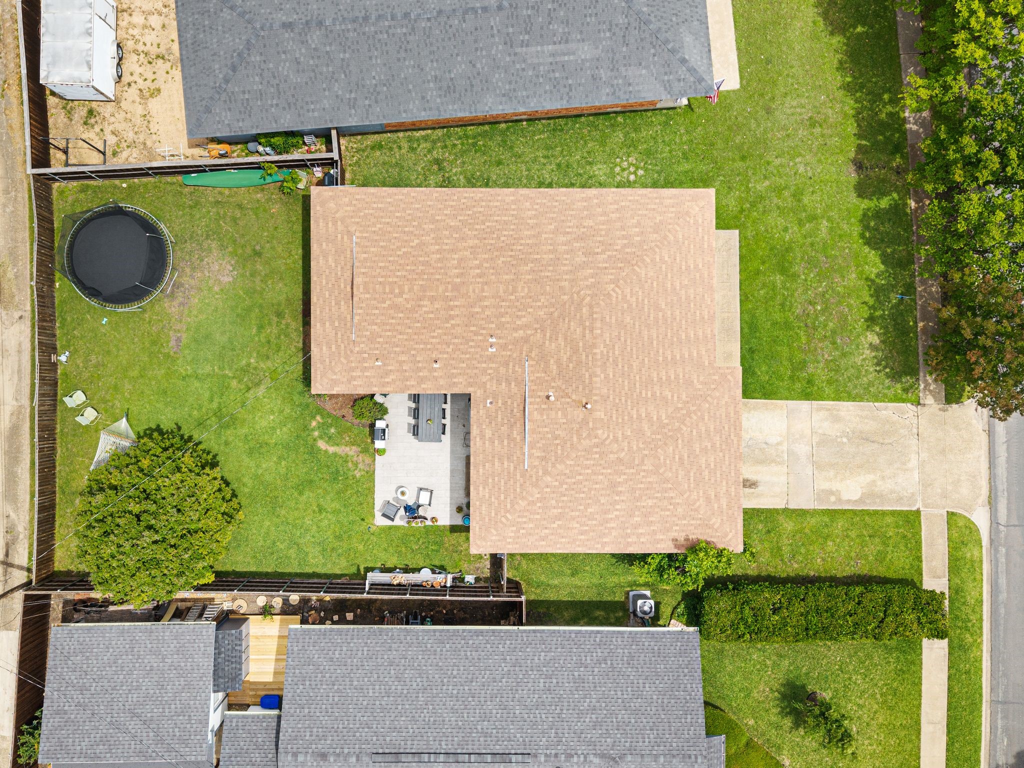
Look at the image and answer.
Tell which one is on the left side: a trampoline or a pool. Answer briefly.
trampoline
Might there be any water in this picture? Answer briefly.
No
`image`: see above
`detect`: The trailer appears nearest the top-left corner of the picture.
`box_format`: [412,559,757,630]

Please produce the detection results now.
[40,0,128,101]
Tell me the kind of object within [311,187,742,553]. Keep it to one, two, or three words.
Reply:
house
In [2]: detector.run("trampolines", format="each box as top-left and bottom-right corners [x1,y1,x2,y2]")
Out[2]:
[49,199,179,312]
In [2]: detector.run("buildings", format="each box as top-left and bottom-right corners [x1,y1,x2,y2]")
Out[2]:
[311,187,742,553]
[278,623,728,768]
[176,0,714,143]
[36,621,229,768]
